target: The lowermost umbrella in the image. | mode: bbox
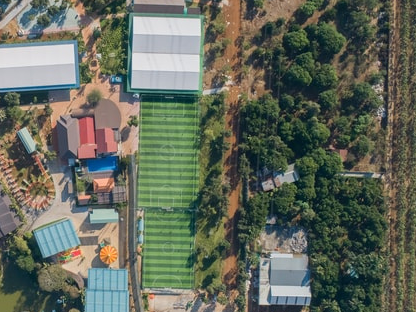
[100,246,119,265]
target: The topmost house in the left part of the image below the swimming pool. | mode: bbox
[93,178,115,194]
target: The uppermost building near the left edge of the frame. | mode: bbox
[0,41,79,93]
